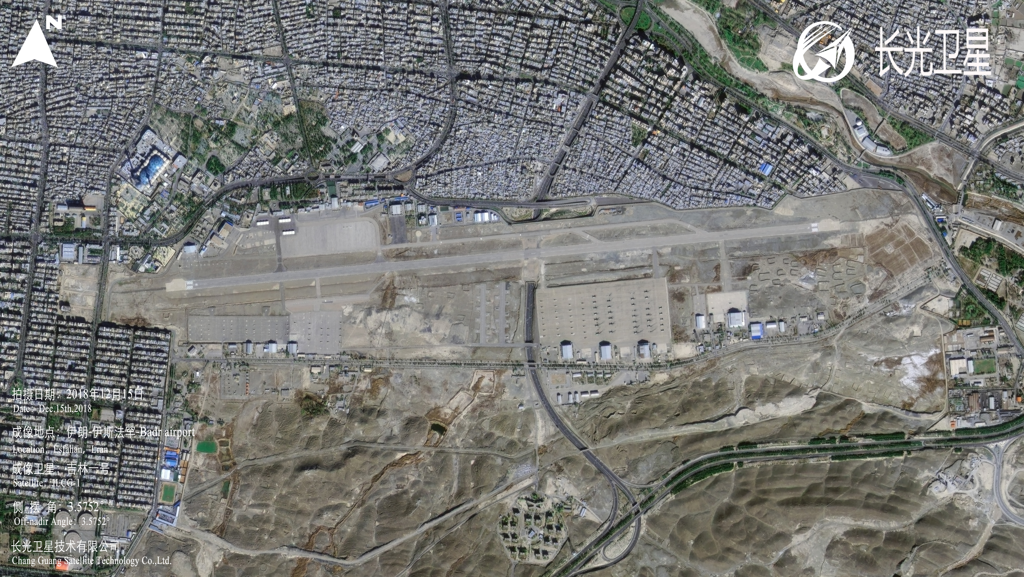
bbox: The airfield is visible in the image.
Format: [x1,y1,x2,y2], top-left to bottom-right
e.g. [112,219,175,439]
[166,206,840,364]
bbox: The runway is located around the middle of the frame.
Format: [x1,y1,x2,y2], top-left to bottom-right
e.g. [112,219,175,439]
[185,223,819,290]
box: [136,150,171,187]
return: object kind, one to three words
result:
building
